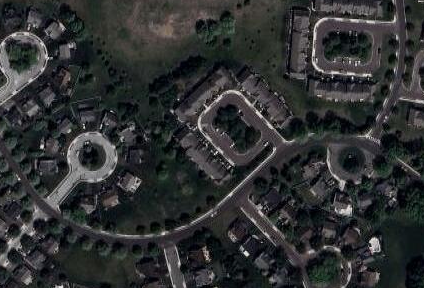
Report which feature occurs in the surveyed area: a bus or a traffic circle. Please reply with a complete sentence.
Of the two, only a traffic circle appears.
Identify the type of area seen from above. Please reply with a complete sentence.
It's a residential area.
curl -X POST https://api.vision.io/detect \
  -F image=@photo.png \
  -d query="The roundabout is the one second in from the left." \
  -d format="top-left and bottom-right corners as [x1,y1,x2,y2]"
[68,134,116,182]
